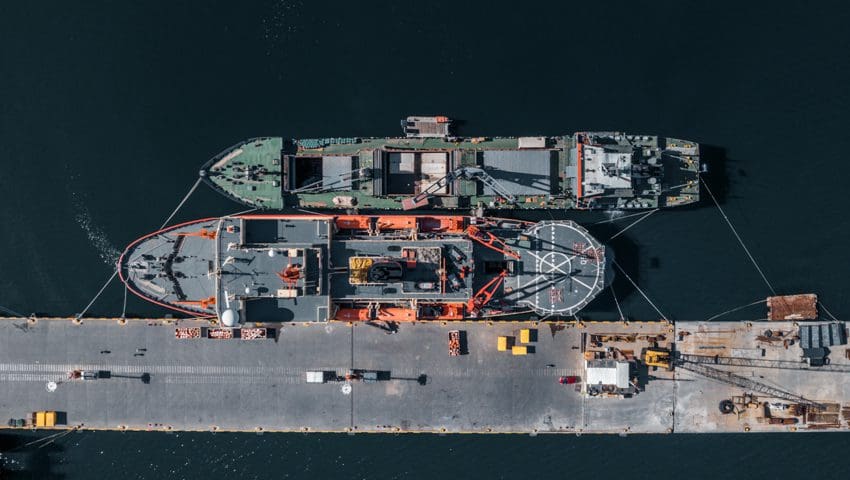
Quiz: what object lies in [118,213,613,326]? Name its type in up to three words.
ship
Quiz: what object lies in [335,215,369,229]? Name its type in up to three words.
boat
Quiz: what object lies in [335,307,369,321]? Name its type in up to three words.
boat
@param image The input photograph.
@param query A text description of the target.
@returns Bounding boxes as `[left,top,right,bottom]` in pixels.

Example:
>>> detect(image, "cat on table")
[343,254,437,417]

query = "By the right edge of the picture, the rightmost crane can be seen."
[639,345,830,409]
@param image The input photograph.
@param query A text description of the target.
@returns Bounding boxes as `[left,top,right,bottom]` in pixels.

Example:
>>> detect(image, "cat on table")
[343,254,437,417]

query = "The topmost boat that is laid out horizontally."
[401,115,450,138]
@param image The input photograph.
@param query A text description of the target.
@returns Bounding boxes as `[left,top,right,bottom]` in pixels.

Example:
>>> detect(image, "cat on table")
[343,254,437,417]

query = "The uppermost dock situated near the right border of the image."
[765,294,817,321]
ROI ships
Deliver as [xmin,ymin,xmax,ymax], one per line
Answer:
[200,132,707,210]
[118,213,613,326]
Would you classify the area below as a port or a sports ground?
port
